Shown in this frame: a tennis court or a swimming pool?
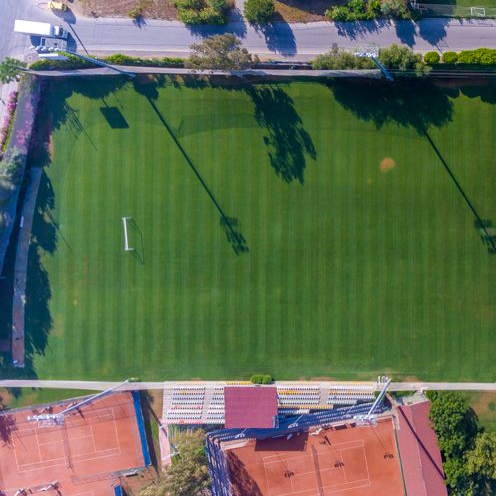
tennis court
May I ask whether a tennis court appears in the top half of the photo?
No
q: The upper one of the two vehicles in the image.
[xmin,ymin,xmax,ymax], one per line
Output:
[48,0,73,13]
